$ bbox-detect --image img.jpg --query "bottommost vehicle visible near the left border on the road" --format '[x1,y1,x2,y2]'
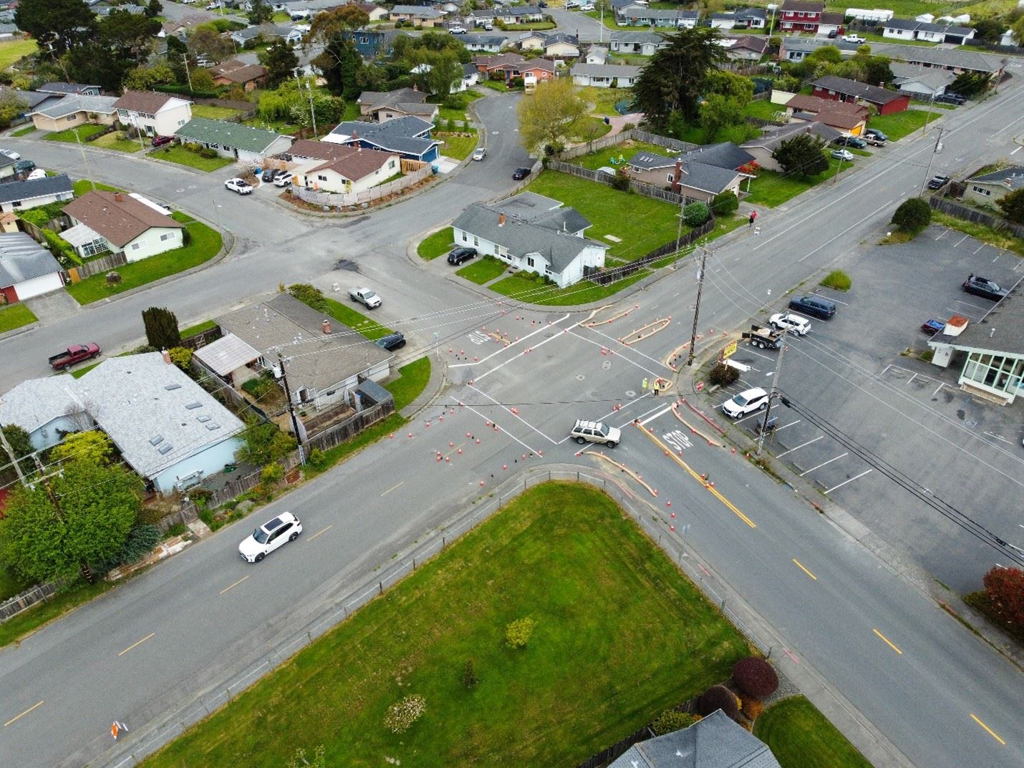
[40,341,104,370]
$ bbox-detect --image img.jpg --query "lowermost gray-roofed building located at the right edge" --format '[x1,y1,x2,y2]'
[926,274,1024,407]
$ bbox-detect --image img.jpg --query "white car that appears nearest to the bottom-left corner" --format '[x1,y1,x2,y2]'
[235,513,301,564]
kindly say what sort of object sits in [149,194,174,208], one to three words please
car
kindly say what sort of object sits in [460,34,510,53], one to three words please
house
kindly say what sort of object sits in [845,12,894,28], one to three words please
shed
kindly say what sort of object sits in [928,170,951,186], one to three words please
vehicle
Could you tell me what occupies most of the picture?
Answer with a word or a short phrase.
paved ground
